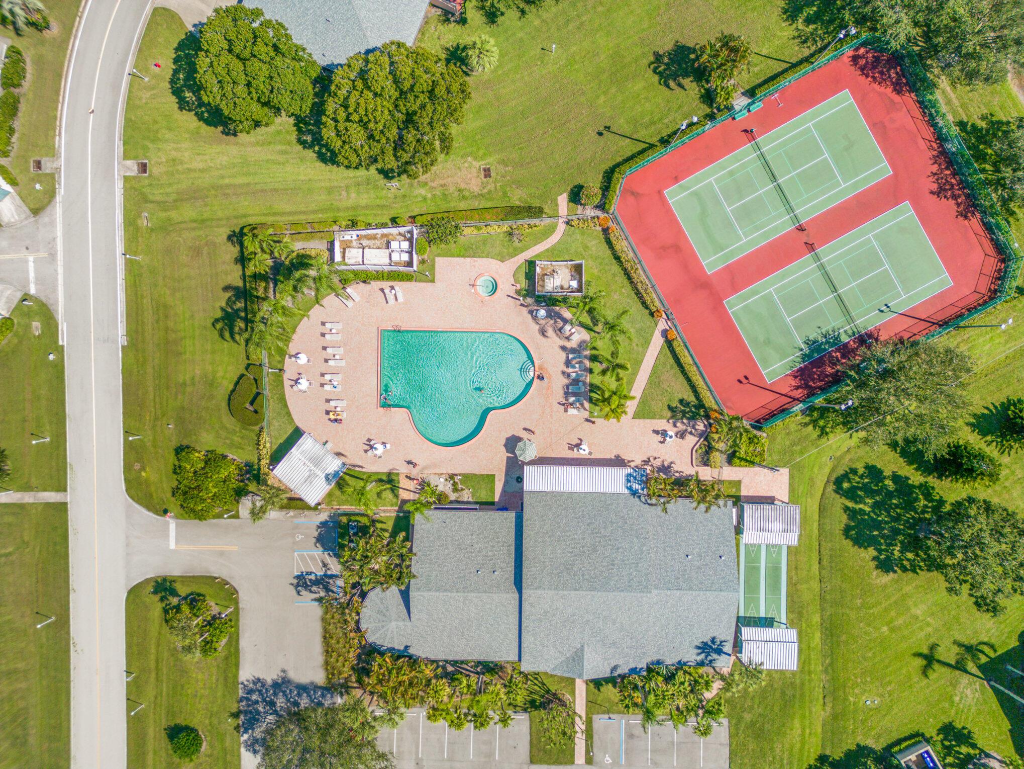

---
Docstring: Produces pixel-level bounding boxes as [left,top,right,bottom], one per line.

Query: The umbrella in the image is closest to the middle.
[515,442,537,464]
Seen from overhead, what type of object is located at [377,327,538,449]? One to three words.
swimming pool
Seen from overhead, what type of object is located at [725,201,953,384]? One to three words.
tennis court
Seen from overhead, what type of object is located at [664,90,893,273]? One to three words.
tennis court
